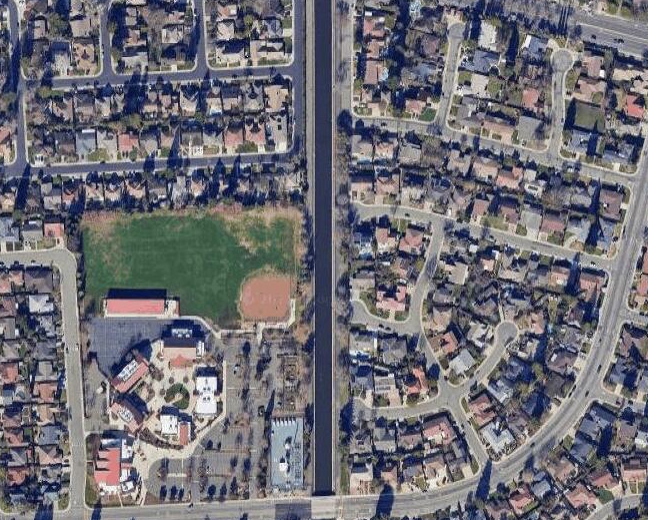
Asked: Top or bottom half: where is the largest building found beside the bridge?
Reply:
bottom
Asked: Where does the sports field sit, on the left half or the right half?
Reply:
left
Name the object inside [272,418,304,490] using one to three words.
building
